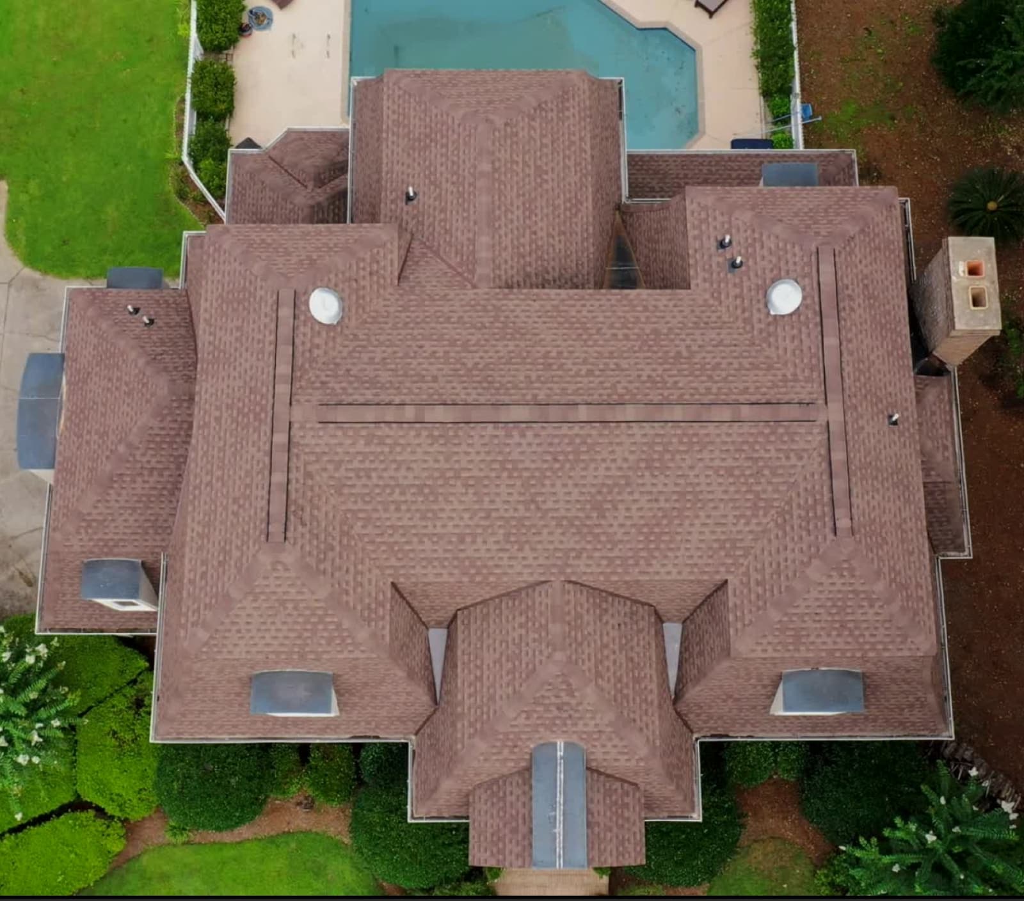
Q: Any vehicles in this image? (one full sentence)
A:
No, the picture doesn't show any vehicle.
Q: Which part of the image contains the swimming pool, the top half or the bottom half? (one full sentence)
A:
The swimming pool is in the top half of the image.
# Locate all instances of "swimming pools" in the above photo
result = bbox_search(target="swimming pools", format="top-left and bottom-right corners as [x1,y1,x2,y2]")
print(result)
[349,0,698,150]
